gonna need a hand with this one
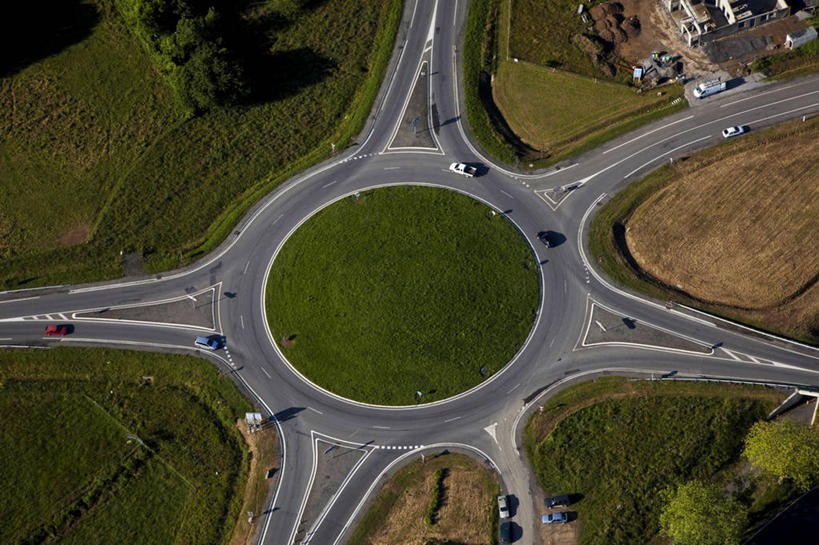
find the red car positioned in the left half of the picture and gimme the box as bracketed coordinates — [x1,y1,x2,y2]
[44,325,68,337]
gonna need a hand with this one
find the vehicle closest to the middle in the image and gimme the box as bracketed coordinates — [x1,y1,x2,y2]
[449,162,477,178]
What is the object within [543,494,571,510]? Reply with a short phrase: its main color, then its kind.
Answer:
black car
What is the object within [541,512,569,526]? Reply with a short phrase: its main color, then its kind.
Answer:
blue vehicle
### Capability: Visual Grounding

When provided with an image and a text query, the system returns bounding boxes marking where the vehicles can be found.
[537,231,556,250]
[541,512,569,526]
[44,325,68,337]
[721,125,745,138]
[498,495,510,520]
[499,522,512,545]
[695,78,728,99]
[194,335,219,351]
[449,162,477,178]
[543,494,571,510]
